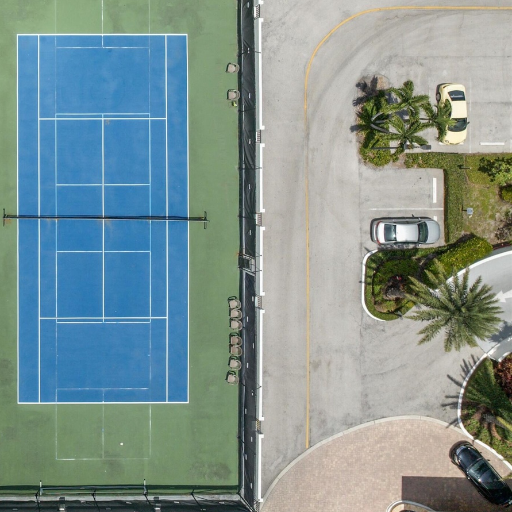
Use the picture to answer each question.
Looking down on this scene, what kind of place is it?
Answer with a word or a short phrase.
sports ground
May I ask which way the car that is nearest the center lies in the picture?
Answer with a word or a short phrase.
horizontally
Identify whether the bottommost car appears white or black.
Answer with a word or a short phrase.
black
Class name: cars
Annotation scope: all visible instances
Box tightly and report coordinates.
[449,441,512,508]
[434,81,469,148]
[366,217,440,247]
